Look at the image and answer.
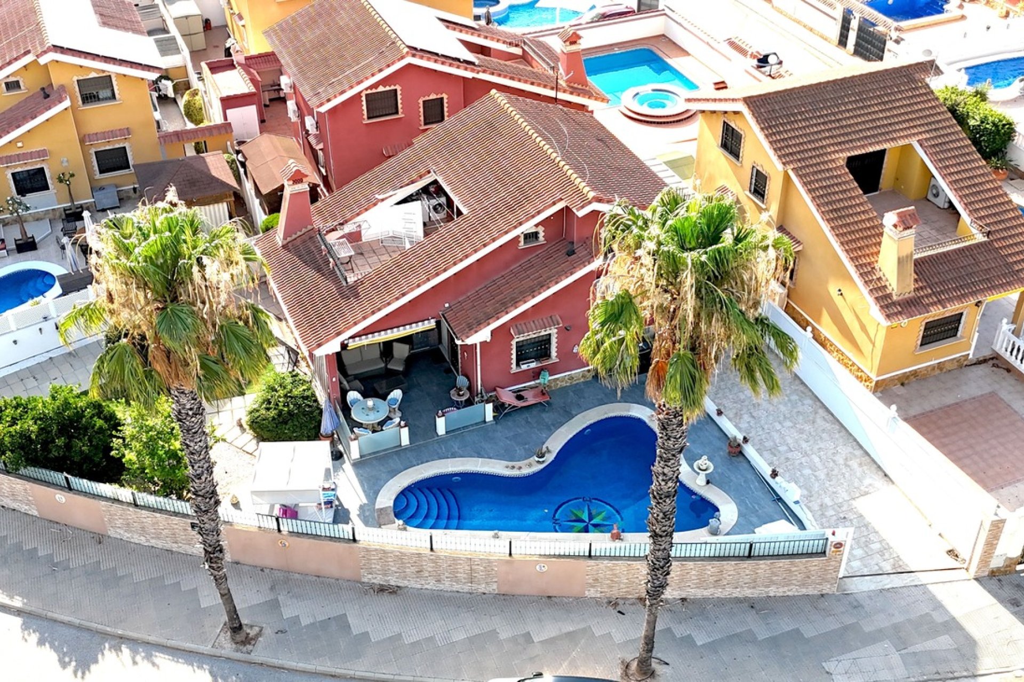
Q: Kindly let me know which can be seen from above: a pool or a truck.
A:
pool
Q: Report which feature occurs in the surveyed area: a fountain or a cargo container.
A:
fountain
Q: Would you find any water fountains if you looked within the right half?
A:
Yes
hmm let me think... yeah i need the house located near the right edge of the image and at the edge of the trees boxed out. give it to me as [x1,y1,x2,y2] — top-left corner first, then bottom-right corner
[675,39,1024,393]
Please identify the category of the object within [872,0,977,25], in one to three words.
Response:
swimming pool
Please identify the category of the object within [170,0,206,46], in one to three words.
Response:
shed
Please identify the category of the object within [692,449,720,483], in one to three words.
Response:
fountain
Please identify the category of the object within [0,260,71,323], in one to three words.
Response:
swimming pool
